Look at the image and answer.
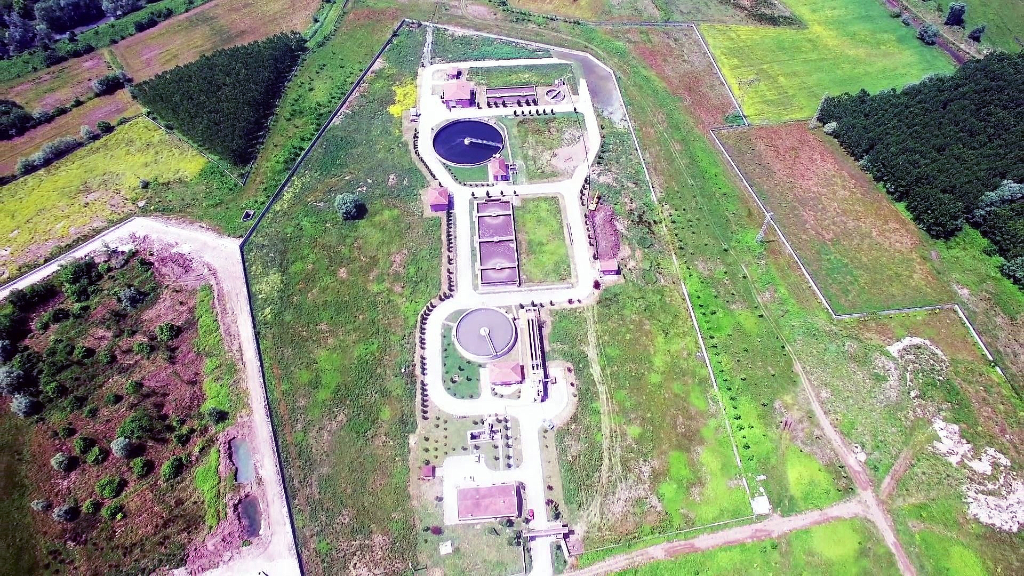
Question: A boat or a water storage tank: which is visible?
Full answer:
Of the two, only a water storage tank appears.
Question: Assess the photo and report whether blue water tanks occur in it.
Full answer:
Yes, a blue water tank can be made out from above.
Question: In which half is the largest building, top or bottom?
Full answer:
Seen from above, the largest building lies in the bottom half of the view.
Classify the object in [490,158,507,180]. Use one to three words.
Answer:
building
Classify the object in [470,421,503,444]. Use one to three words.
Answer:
building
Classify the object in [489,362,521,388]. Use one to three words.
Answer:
house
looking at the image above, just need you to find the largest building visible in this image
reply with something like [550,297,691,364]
[458,481,517,525]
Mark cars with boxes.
[528,509,534,520]
[543,419,555,430]
[474,453,480,465]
